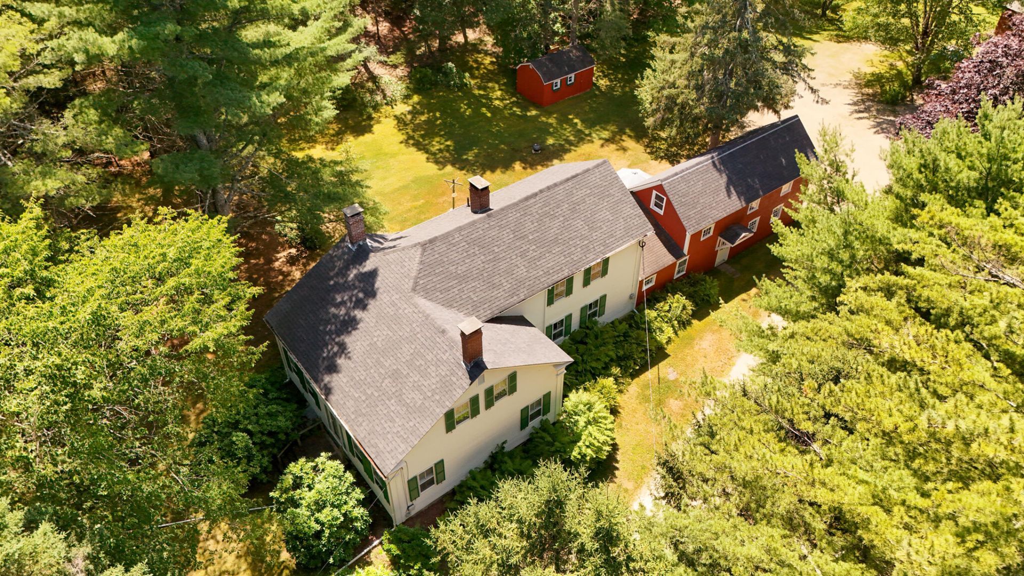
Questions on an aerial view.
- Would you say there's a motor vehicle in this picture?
No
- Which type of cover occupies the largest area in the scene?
trees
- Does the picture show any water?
No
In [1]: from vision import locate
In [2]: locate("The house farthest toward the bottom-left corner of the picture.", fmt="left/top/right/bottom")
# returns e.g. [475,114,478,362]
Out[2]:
[262,159,656,537]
